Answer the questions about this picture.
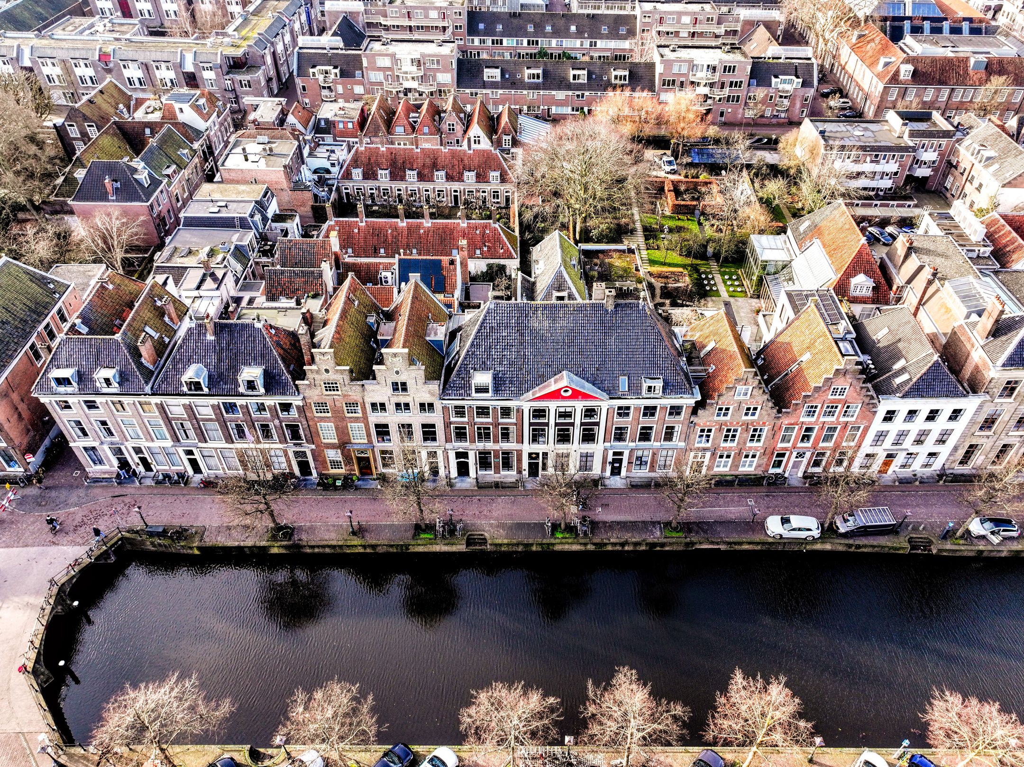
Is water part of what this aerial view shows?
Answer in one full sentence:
Yes, water shows up in the scene.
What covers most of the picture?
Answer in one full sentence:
The largest share of the image is taken up by buildings.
